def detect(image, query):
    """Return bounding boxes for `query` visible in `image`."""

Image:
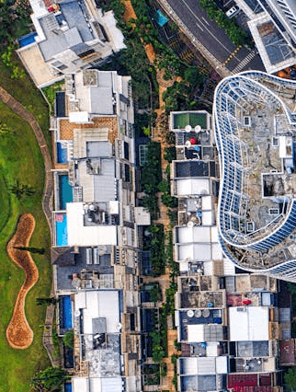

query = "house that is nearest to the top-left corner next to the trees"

[15,0,128,92]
